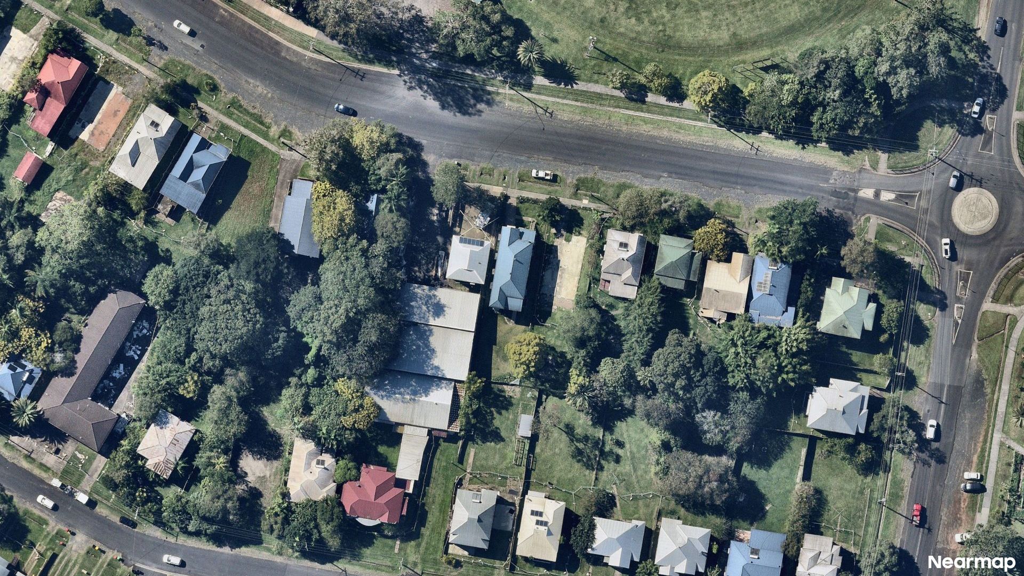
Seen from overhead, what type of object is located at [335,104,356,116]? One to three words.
vehicle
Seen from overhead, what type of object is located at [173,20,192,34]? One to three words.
car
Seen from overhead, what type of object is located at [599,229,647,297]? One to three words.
house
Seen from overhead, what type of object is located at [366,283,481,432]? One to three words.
building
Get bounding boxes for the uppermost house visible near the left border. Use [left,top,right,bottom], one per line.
[23,53,89,137]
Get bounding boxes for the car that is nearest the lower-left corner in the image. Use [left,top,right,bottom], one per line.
[36,495,56,510]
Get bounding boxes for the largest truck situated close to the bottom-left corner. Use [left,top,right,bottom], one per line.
[50,477,91,504]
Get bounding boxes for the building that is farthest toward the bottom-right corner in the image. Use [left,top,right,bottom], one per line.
[797,533,842,576]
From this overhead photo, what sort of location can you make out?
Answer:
residential area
